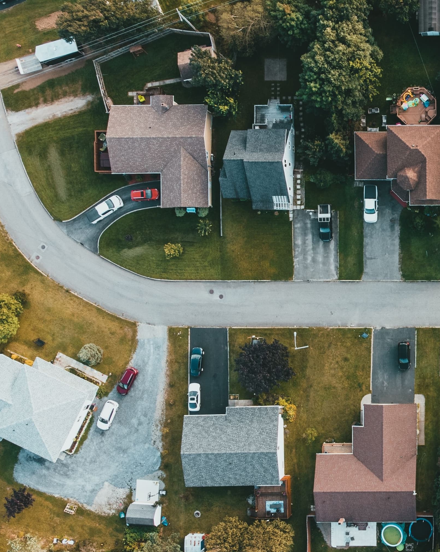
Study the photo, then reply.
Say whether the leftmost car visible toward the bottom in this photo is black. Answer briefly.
No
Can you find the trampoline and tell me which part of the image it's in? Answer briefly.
bottom right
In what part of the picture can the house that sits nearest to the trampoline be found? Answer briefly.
bottom right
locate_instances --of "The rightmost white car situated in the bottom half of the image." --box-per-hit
[186,381,203,412]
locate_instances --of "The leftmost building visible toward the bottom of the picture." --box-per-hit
[0,351,105,463]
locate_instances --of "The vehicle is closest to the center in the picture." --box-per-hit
[188,346,205,377]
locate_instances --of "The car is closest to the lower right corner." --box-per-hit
[396,341,411,370]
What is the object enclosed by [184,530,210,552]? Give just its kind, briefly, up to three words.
shed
